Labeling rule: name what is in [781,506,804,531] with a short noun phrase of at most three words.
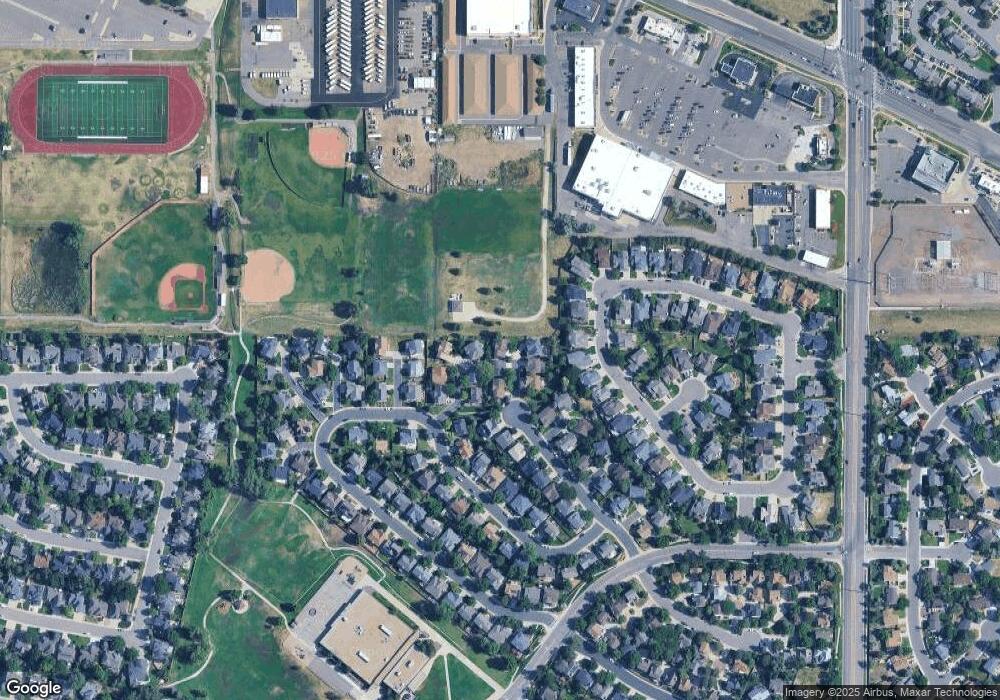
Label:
house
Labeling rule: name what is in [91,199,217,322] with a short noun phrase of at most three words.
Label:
baseball field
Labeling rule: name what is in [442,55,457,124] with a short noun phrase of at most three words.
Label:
building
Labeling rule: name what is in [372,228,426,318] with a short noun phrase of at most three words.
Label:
soccer field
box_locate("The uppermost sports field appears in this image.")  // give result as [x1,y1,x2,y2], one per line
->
[37,75,169,144]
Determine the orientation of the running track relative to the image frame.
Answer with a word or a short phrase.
from left to right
